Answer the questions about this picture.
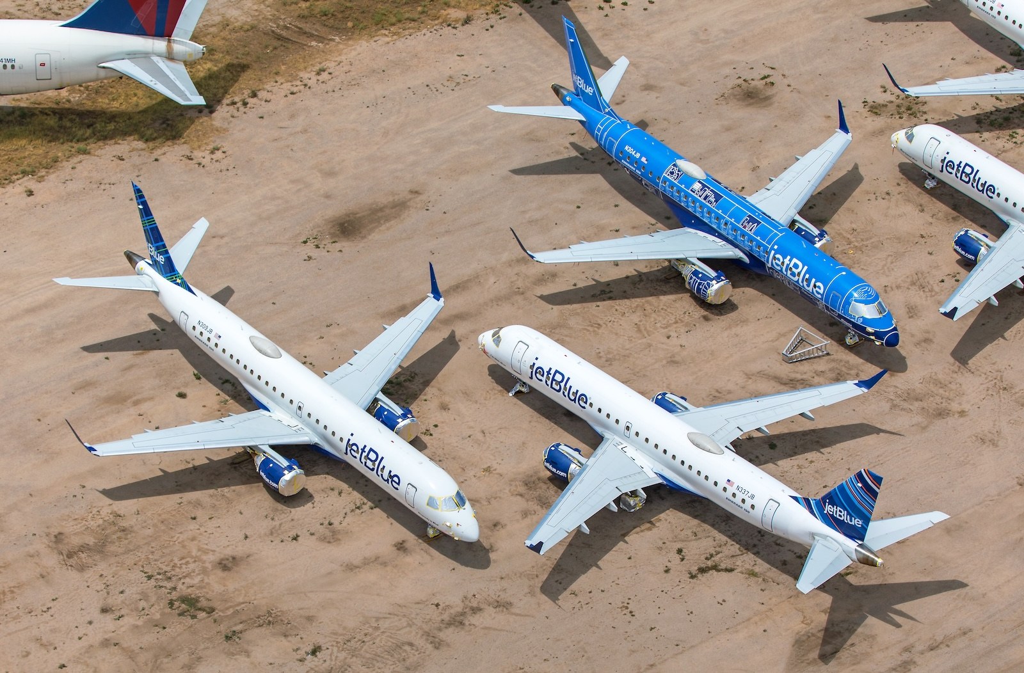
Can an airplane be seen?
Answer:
Yes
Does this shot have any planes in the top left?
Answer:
Yes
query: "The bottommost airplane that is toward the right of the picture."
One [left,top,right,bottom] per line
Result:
[478,327,949,593]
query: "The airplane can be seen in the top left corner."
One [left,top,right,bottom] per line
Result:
[0,0,212,109]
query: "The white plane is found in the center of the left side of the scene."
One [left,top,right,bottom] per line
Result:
[52,181,482,545]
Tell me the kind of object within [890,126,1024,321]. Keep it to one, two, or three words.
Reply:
airplane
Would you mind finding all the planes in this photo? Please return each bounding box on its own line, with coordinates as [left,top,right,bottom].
[890,126,1024,321]
[478,327,949,593]
[52,181,482,545]
[488,16,901,351]
[0,0,212,109]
